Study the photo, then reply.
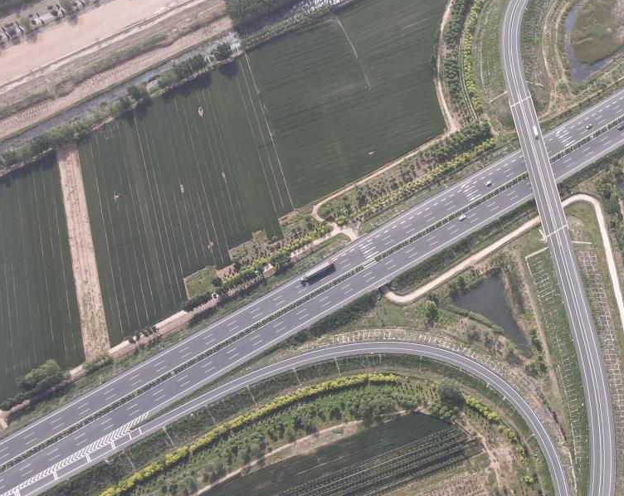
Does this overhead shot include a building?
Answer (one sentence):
No, the scene contains no building.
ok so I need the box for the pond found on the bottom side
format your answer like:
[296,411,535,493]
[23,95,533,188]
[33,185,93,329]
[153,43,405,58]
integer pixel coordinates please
[455,274,531,355]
